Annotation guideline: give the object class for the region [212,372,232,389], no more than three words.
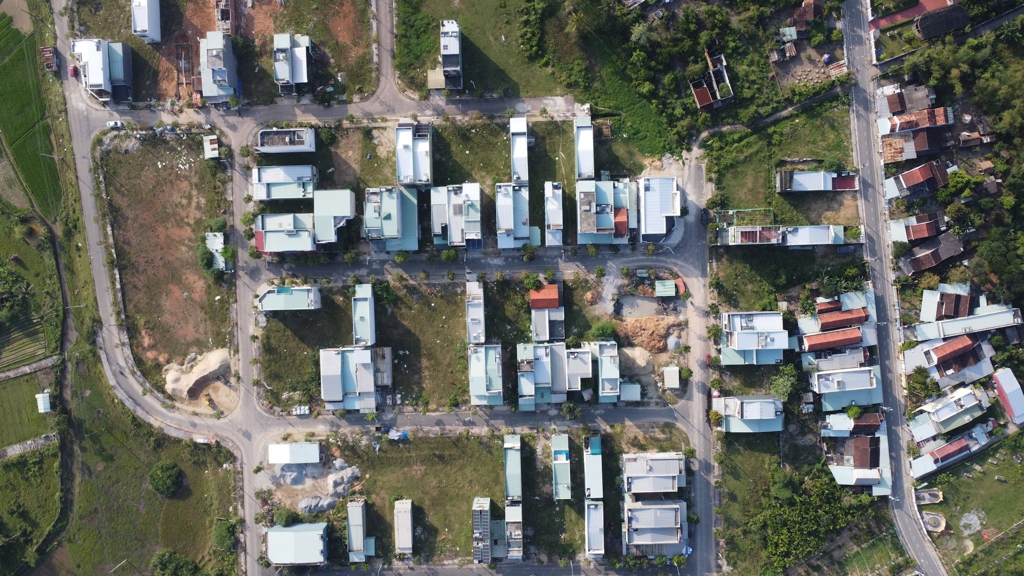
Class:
vehicle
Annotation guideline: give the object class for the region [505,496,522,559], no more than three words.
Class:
house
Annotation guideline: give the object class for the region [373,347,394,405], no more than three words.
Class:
shed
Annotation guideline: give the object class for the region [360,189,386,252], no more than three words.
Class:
house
